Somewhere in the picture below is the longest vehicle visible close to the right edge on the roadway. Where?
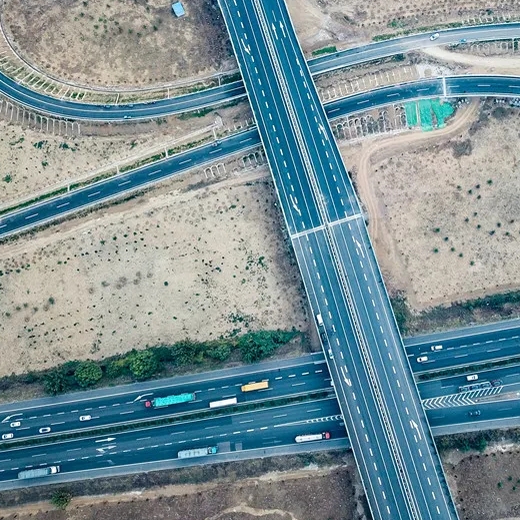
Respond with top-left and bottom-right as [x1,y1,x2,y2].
[458,378,502,395]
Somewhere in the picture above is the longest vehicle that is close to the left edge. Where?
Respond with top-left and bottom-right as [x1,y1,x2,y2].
[17,464,62,479]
